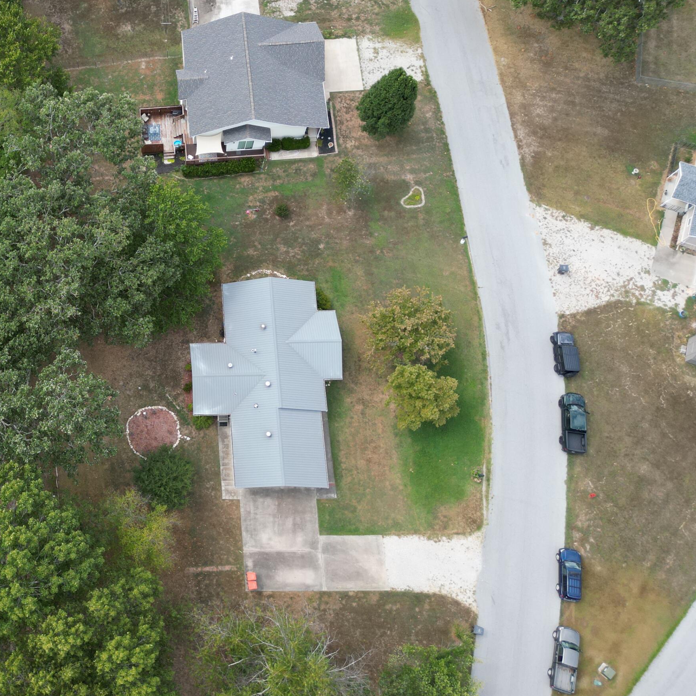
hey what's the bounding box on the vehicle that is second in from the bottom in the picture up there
[555,548,583,601]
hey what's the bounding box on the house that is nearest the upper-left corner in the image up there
[176,12,329,151]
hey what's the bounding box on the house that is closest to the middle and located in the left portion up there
[190,277,345,488]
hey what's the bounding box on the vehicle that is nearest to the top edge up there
[549,333,580,376]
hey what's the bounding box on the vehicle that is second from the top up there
[557,395,587,454]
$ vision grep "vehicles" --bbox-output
[555,548,583,601]
[547,624,581,694]
[557,395,587,454]
[549,333,580,376]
